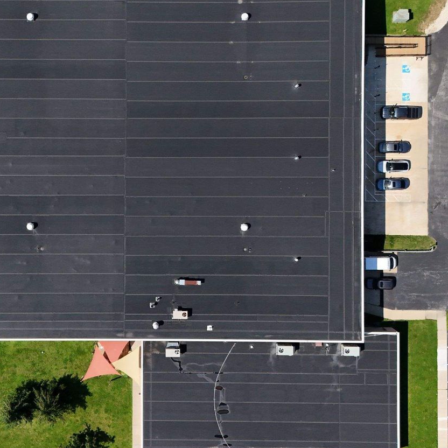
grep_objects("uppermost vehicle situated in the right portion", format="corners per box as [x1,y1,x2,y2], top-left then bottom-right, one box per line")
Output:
[379,103,424,120]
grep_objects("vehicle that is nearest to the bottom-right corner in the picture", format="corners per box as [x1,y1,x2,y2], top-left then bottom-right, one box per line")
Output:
[364,275,397,291]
